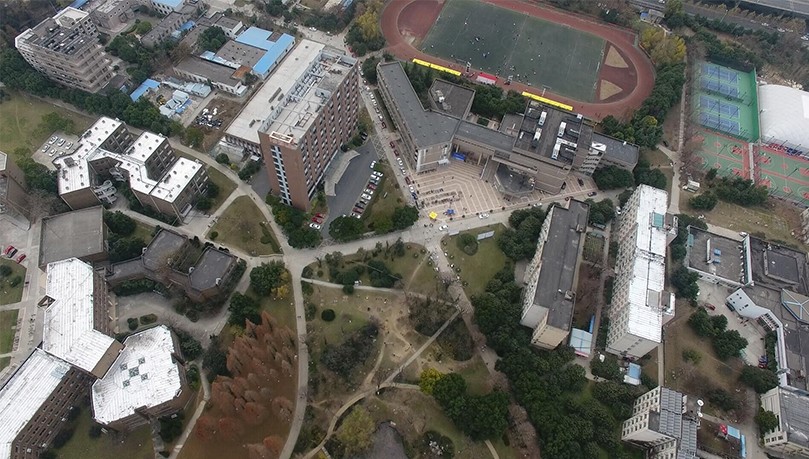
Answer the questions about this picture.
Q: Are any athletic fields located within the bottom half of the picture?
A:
No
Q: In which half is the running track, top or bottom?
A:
top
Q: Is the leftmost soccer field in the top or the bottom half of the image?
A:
top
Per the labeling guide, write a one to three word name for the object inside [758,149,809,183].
basketball court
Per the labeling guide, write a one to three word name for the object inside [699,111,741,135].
tennis court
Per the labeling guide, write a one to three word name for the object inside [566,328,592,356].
shed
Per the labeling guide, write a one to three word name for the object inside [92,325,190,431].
building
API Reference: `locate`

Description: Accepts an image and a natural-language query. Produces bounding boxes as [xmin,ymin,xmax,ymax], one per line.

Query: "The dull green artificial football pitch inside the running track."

[415,0,594,100]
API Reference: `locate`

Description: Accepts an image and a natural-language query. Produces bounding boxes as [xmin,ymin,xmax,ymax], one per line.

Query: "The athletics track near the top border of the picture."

[383,0,653,115]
